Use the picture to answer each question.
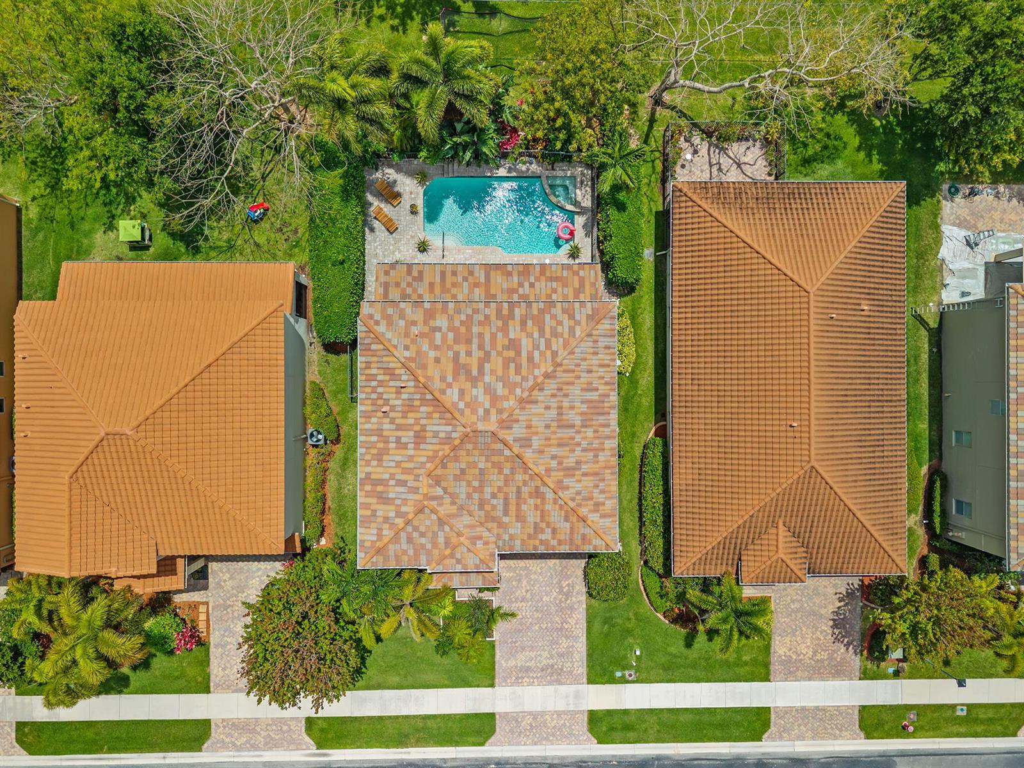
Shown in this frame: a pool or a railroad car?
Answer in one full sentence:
It is a pool that can be seen here.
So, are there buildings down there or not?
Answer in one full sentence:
Yes, the frame does contain a building.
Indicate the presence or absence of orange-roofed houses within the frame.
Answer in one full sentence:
Yes, an orange-roofed house appears in the view.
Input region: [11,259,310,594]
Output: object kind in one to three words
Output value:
house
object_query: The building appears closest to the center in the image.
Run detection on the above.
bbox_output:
[355,261,621,589]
